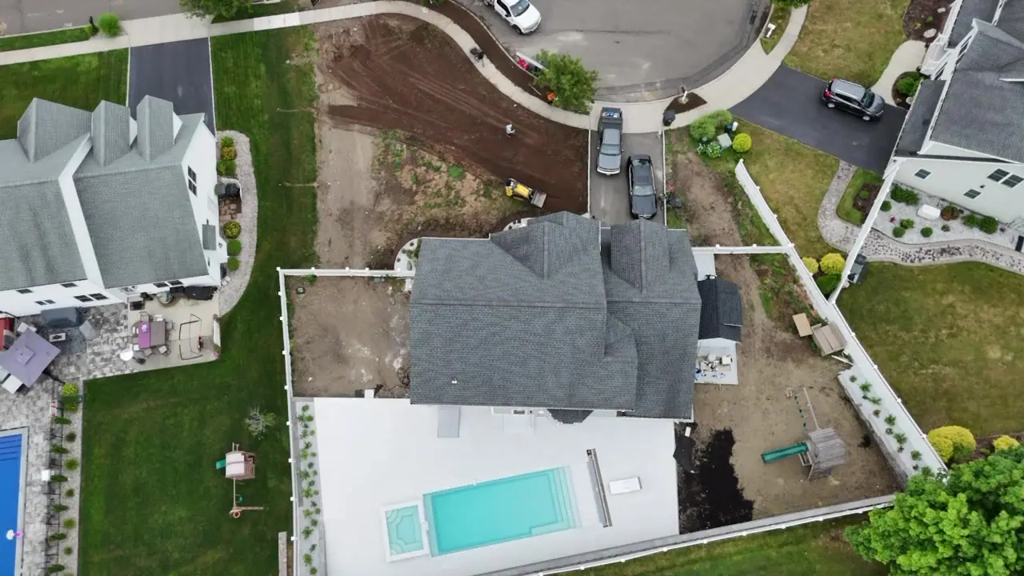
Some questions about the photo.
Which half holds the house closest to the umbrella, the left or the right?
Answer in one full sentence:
The house closest to the umbrella appears in the left half of the scene.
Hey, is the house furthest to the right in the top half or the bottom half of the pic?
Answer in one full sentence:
Seen from above, the house furthest to the right lies in the top half of the view.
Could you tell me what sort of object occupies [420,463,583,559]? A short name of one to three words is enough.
swimming pool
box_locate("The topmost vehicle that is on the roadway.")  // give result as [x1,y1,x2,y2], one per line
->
[496,0,543,35]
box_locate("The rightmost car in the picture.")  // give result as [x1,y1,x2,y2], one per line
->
[823,80,882,121]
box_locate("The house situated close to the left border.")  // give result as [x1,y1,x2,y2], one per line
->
[0,92,227,317]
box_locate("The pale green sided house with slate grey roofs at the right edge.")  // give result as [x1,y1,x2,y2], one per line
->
[890,0,1024,255]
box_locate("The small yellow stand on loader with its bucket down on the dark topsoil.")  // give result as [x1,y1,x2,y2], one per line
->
[512,177,547,206]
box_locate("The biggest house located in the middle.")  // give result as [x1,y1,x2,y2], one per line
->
[409,211,702,422]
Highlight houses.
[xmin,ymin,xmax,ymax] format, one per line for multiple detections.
[0,92,227,317]
[890,0,1024,255]
[409,211,702,422]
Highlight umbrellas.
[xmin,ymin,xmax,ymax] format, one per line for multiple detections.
[0,329,64,387]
